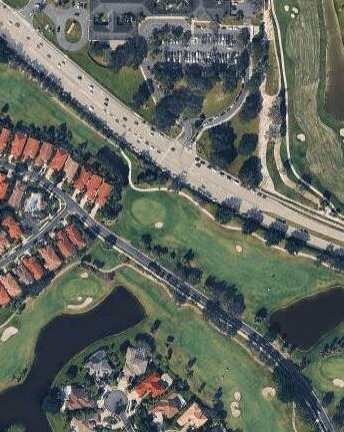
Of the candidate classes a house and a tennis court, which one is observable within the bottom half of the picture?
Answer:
house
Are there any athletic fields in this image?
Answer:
Yes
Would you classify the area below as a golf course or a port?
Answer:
golf course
